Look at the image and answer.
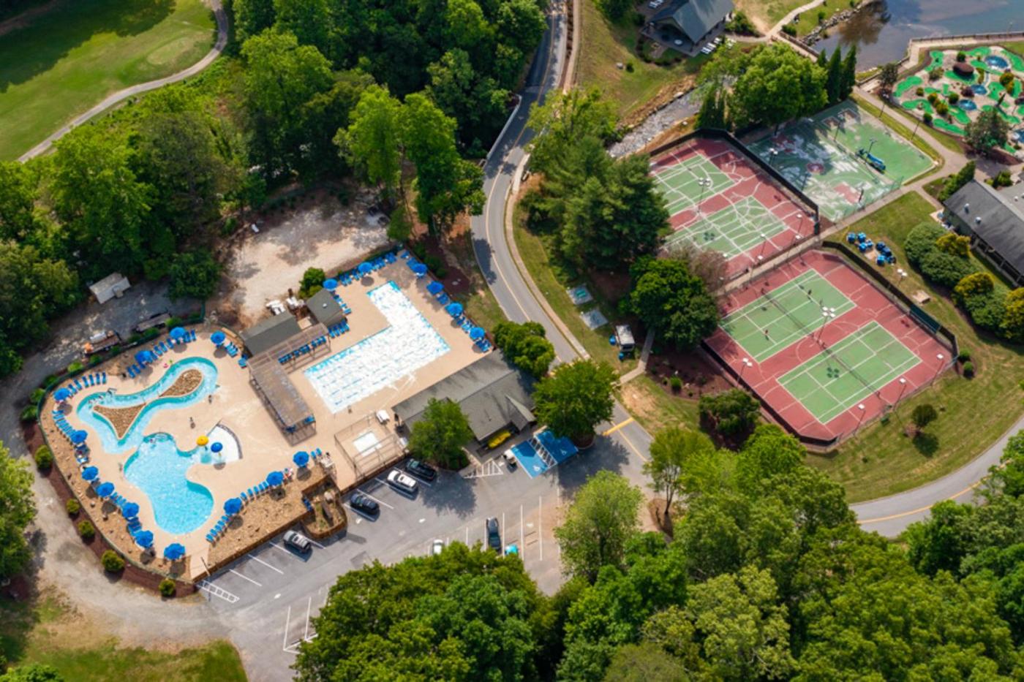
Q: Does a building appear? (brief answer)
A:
Yes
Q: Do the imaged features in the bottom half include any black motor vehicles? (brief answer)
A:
Yes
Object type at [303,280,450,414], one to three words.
swimming pool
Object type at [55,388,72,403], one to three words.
umbrella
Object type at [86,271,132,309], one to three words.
shed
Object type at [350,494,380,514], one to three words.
car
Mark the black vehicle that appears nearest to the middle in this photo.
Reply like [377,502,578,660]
[405,459,436,481]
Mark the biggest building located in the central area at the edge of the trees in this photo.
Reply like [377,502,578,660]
[392,348,539,438]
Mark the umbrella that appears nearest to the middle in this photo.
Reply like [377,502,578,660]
[470,328,485,342]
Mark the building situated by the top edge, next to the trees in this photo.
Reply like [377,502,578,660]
[646,0,743,62]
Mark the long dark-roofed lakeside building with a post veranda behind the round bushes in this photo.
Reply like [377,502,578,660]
[946,182,1024,277]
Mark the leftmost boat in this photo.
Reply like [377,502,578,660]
[480,429,512,451]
